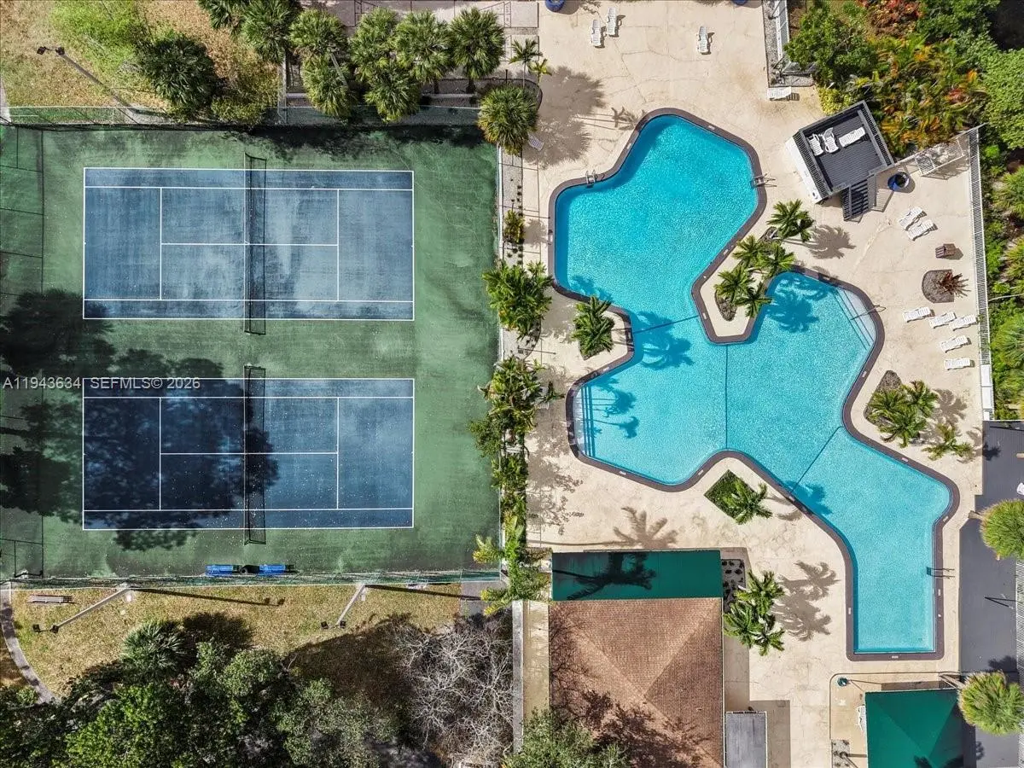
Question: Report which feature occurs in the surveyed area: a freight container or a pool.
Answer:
pool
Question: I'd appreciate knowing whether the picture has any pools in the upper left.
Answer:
No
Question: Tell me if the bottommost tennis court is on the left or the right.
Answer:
left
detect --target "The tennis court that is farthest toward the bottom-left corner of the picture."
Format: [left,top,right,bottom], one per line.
[82,364,414,547]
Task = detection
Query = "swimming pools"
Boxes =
[547,108,958,662]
